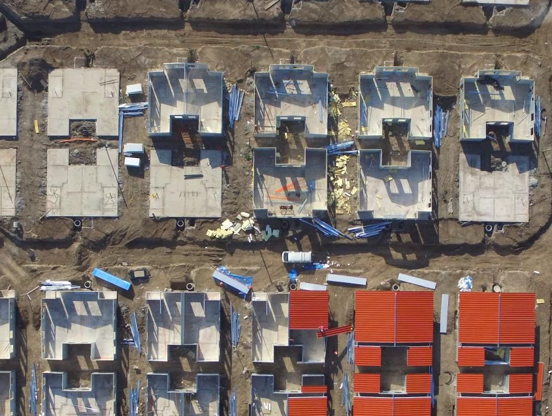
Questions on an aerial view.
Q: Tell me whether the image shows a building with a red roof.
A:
Yes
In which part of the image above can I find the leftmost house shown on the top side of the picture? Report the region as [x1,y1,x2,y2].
[148,63,220,138]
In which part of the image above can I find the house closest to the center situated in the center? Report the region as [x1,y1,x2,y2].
[254,147,325,218]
